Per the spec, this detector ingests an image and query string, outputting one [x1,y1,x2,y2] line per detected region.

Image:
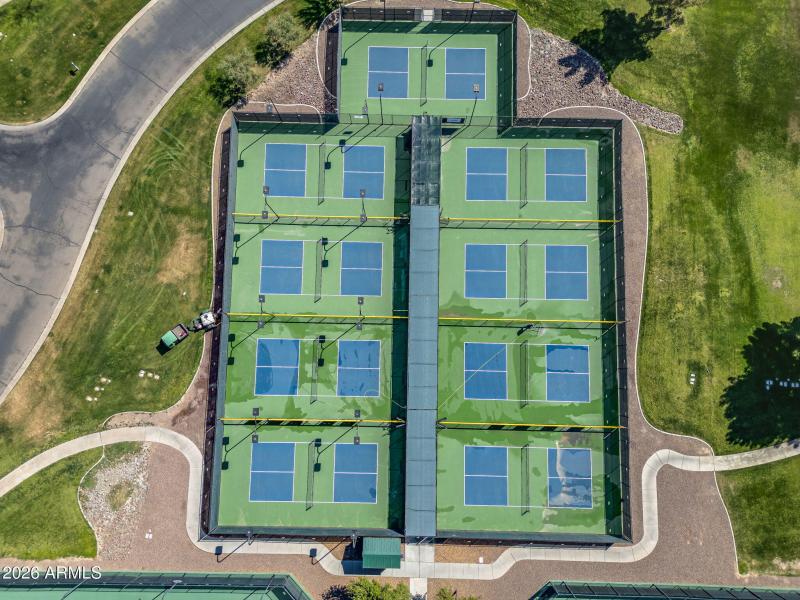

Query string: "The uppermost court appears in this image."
[340,20,512,127]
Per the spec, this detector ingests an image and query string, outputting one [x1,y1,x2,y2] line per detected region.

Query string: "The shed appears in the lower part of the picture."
[362,537,402,570]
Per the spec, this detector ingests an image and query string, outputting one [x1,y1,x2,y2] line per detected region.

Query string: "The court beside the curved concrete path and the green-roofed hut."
[221,418,406,530]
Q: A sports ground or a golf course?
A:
sports ground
